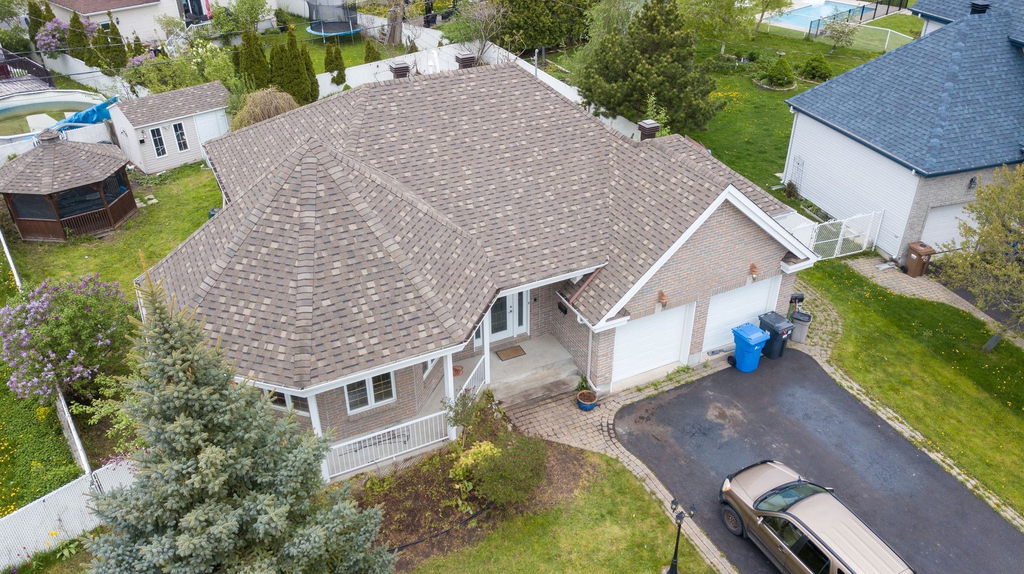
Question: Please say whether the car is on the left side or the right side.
right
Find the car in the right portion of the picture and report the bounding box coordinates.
[714,465,923,574]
